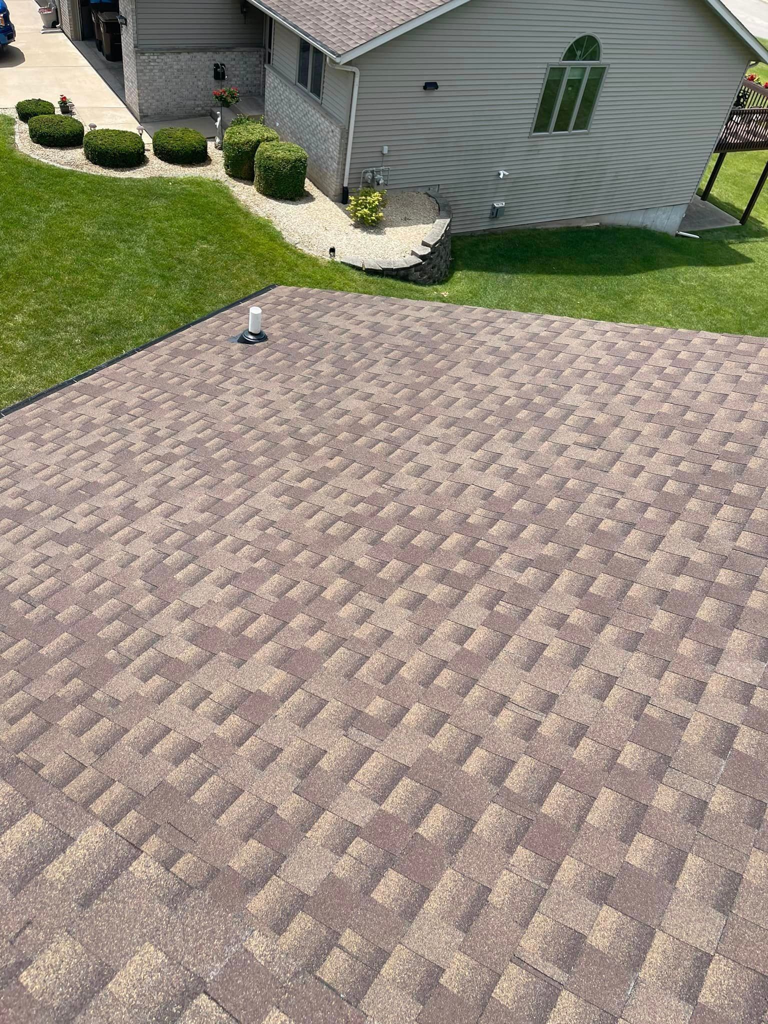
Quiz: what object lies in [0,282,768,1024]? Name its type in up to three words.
house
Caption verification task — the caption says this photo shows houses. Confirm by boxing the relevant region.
[35,0,768,236]
[0,282,768,1024]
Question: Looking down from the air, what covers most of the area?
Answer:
buildings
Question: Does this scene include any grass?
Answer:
Yes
